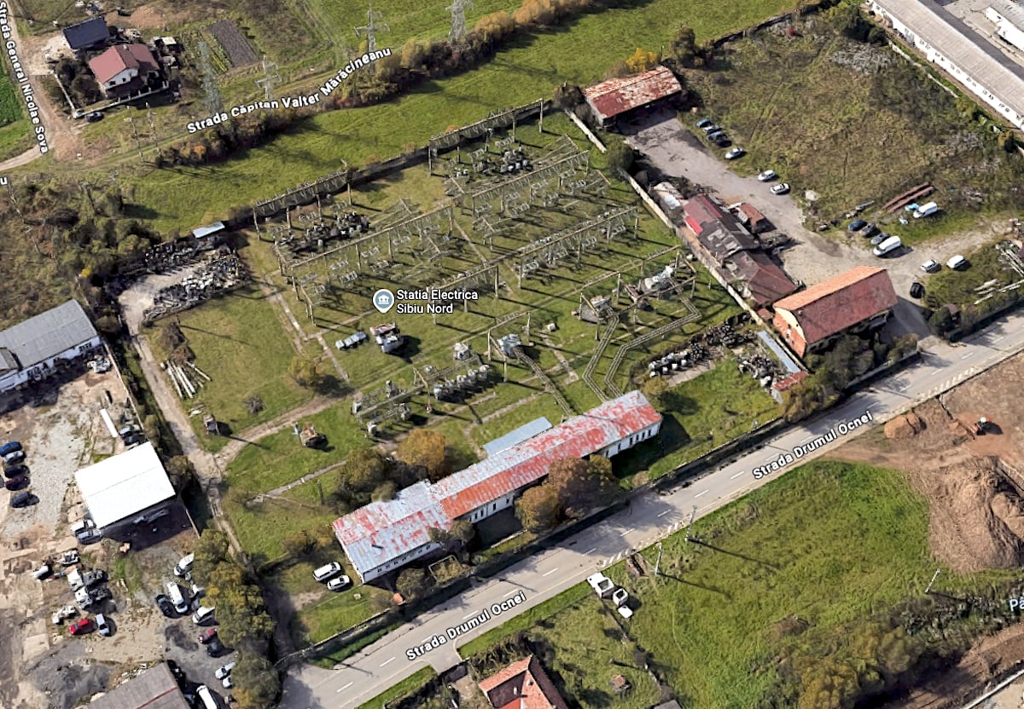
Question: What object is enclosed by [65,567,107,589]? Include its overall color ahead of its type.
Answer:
white truck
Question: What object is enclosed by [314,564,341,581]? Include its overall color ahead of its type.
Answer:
white car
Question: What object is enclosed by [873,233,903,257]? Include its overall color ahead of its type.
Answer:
white vehicle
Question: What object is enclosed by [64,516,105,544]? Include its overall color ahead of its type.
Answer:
white truck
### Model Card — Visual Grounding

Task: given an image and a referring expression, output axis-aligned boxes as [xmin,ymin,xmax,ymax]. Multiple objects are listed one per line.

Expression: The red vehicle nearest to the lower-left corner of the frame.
[68,620,95,638]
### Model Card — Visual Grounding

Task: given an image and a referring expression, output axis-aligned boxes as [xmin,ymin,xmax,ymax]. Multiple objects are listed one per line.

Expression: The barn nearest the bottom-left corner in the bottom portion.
[86,664,189,709]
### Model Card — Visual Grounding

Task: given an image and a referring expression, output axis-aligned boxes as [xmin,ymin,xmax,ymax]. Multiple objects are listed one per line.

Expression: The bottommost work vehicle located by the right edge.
[965,416,993,437]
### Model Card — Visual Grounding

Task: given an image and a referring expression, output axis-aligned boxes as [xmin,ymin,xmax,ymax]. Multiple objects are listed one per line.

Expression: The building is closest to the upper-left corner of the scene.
[62,16,111,59]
